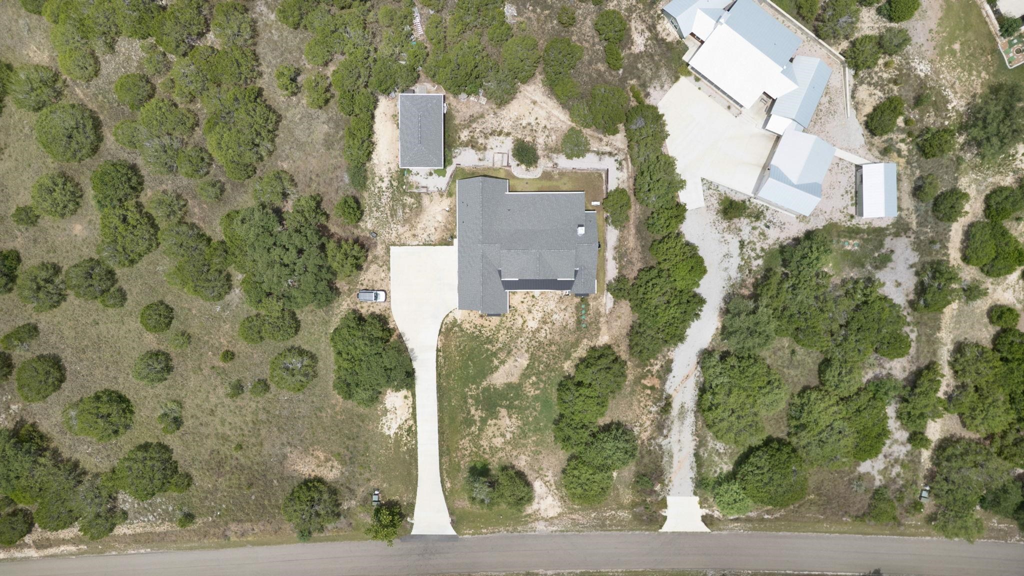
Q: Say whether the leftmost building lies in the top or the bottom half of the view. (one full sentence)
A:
The leftmost building sits in the top half of the picture.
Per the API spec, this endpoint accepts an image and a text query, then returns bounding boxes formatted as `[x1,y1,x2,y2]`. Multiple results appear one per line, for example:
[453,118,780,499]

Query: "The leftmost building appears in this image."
[399,93,444,169]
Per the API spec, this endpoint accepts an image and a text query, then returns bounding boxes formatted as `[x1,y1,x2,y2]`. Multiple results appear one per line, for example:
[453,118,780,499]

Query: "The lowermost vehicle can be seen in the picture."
[357,289,385,302]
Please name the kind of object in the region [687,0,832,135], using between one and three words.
house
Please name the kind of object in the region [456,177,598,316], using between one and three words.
house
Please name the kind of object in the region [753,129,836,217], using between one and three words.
building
